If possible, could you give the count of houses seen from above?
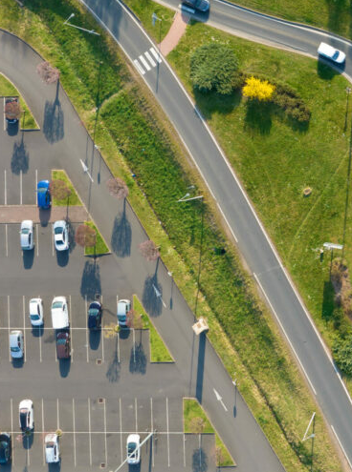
0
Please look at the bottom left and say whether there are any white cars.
Yes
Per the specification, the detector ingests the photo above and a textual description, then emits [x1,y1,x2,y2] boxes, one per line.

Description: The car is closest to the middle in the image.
[115,300,131,327]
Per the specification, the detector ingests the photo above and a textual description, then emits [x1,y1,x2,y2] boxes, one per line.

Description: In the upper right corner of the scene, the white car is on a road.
[316,43,345,64]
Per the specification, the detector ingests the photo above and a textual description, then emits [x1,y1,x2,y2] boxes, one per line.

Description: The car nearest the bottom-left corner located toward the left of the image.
[0,435,12,464]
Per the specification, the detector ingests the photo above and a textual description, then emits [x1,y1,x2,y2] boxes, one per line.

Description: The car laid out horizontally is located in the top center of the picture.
[179,0,210,13]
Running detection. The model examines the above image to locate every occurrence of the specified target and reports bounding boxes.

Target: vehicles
[55,330,72,361]
[54,221,70,252]
[0,435,12,464]
[316,43,345,64]
[36,181,52,208]
[87,301,103,329]
[44,434,61,464]
[18,402,35,431]
[9,330,25,358]
[179,0,210,13]
[19,223,36,249]
[115,300,131,327]
[28,299,45,325]
[52,296,70,330]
